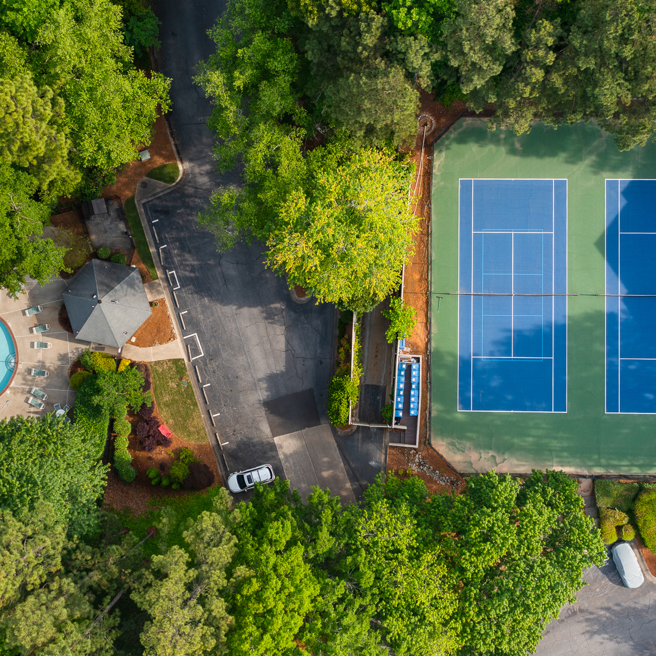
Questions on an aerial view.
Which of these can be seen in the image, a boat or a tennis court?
tennis court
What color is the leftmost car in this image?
white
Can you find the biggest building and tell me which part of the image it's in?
left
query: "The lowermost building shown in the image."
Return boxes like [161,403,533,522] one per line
[62,258,153,348]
